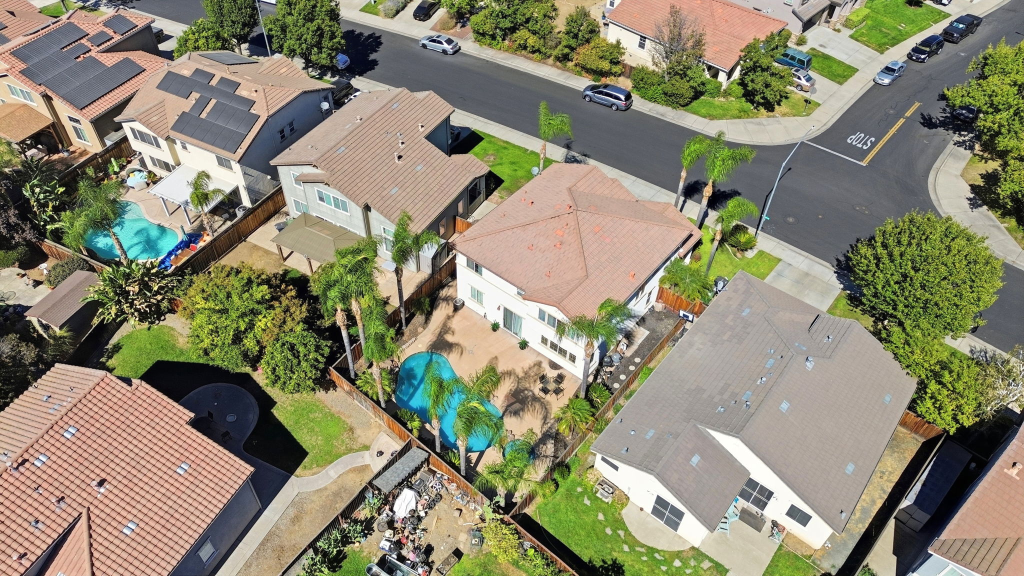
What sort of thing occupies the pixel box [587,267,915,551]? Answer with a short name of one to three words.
house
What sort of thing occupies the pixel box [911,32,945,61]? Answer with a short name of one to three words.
car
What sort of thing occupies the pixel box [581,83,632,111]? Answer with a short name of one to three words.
van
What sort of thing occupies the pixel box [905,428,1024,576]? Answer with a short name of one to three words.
house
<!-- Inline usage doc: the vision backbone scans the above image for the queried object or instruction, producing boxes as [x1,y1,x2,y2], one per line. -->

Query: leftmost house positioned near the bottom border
[0,360,266,576]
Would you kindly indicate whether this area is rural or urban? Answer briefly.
urban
